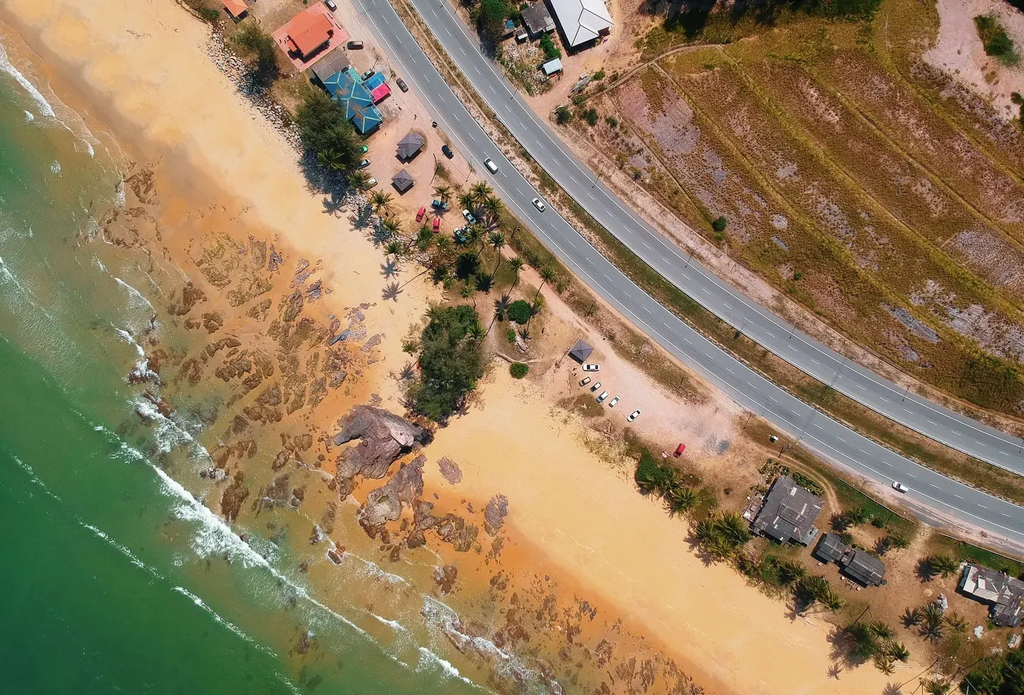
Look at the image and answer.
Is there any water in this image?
Yes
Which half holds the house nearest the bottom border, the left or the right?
right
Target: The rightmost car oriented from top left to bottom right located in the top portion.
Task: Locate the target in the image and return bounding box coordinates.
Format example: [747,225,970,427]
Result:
[531,196,546,213]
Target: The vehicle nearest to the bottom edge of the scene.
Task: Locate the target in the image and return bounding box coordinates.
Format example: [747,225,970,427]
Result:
[892,481,912,495]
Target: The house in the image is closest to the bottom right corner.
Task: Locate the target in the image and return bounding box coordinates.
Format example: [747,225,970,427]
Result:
[959,565,1024,627]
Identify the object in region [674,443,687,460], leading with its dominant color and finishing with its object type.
red vehicle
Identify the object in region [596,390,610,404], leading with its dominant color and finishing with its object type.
white car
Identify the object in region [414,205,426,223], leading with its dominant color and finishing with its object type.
red vehicle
